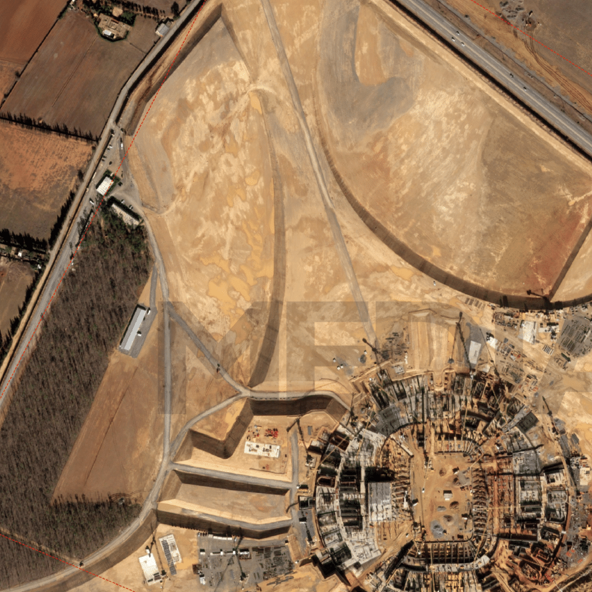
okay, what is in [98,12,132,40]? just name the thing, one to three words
house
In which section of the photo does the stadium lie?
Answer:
bottom right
